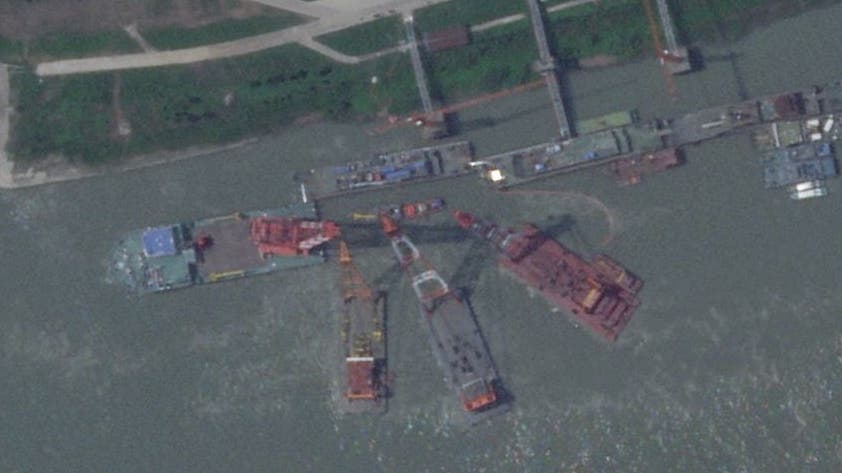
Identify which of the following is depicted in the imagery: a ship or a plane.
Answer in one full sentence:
The one in the frame is a ship.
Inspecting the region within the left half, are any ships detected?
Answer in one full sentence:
Yes, there is a ship within the left half.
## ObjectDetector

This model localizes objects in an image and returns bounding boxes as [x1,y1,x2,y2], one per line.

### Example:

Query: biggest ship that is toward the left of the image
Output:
[112,192,372,291]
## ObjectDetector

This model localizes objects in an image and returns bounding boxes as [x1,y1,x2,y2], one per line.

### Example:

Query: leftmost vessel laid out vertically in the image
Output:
[336,239,400,407]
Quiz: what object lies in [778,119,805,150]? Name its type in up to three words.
ship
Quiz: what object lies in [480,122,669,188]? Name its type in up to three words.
pier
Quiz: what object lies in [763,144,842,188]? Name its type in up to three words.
ship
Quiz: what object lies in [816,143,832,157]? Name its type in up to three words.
boat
